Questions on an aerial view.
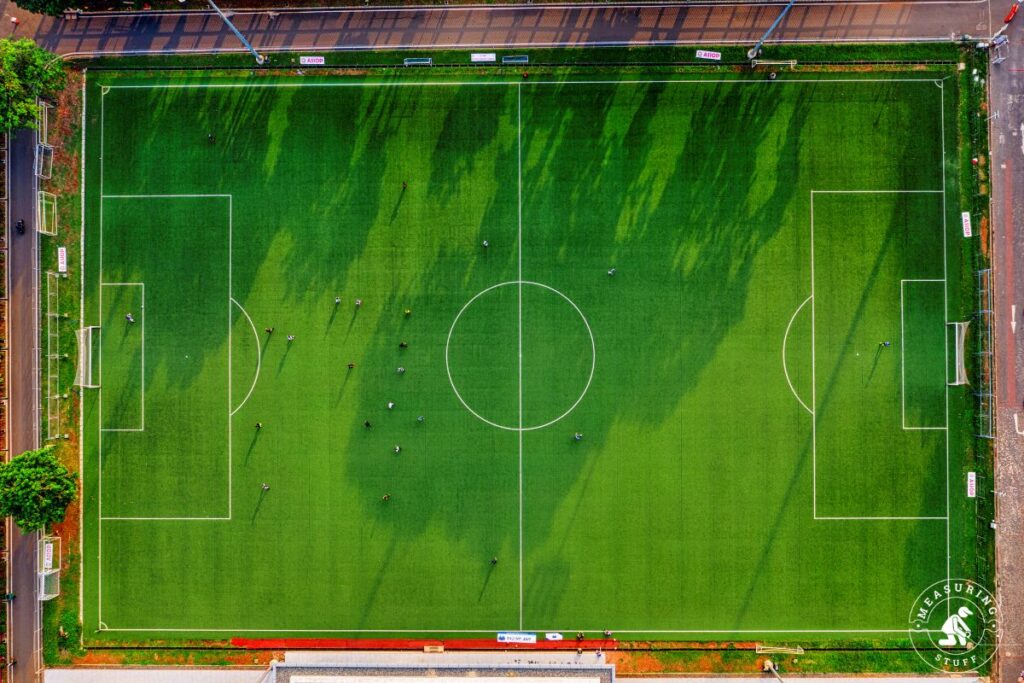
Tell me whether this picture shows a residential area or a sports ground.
sports ground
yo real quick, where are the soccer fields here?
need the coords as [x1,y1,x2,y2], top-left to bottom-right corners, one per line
[81,72,962,641]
